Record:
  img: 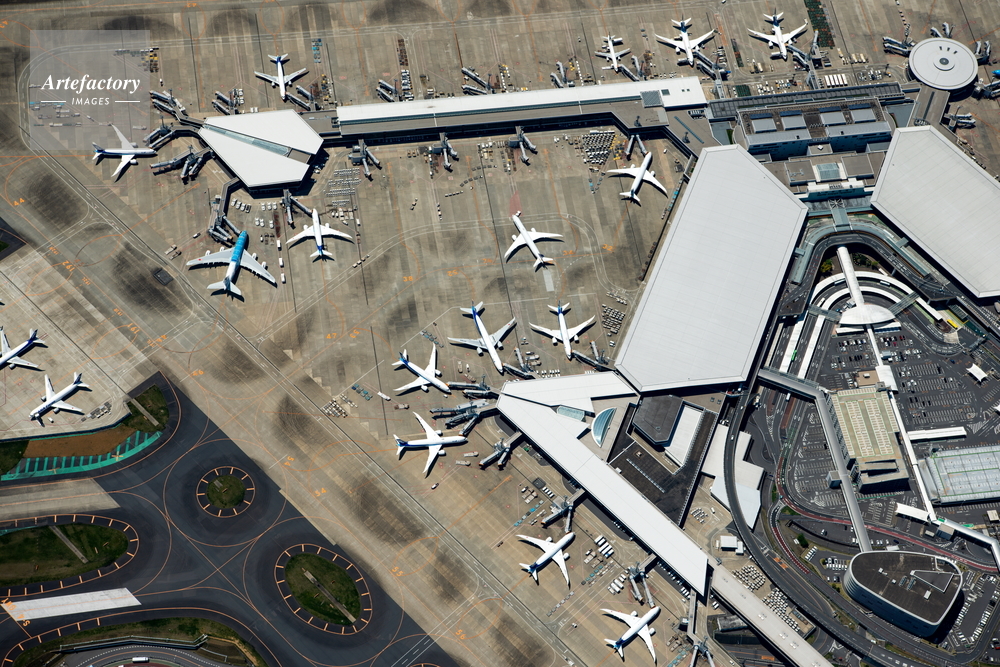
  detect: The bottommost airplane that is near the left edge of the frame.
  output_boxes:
[30,373,88,418]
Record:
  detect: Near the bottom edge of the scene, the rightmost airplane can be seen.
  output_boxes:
[601,607,660,662]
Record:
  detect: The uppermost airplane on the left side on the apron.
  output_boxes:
[255,54,305,100]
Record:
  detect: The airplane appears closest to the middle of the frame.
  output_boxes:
[447,302,516,373]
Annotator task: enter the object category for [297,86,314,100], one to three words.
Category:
jet bridge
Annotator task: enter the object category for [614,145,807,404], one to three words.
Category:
building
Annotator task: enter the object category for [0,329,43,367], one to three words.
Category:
airplane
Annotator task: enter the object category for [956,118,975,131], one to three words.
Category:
jet bridge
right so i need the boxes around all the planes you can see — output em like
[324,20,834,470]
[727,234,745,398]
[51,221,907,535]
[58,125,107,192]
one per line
[749,10,807,59]
[255,54,305,100]
[655,17,714,64]
[447,302,516,373]
[517,533,575,586]
[93,125,156,176]
[601,607,660,662]
[0,329,43,367]
[991,68,1000,75]
[393,344,451,394]
[30,373,88,418]
[286,209,353,258]
[529,301,595,360]
[504,216,562,264]
[187,231,275,295]
[400,412,466,473]
[607,153,667,197]
[596,38,630,70]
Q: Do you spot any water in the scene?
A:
No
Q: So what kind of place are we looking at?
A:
airport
